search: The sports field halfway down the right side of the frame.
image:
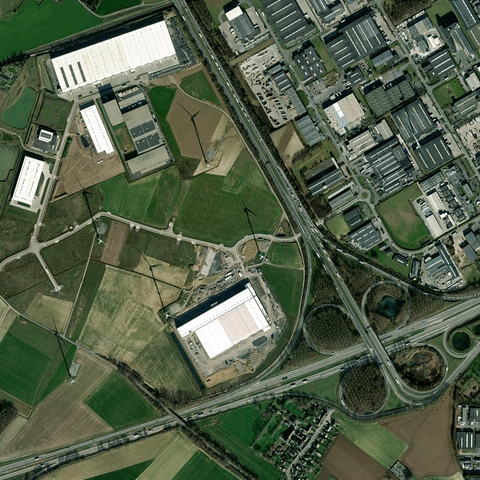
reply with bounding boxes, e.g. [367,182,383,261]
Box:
[375,187,432,250]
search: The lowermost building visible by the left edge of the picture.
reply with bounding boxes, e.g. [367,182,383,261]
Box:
[10,156,45,208]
